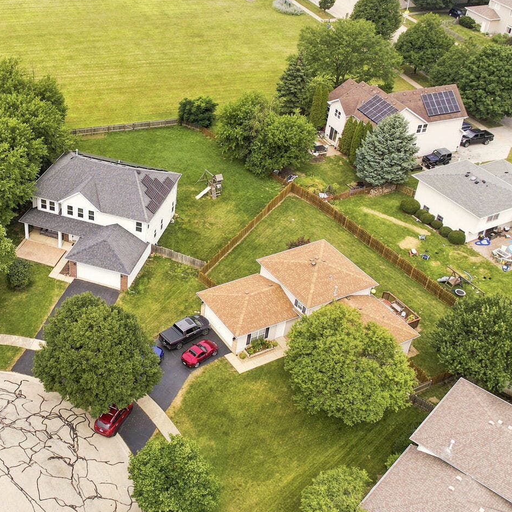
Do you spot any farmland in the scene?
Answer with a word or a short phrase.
No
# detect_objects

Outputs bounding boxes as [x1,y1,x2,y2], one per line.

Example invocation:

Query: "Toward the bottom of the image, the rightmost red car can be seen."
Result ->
[176,343,222,370]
